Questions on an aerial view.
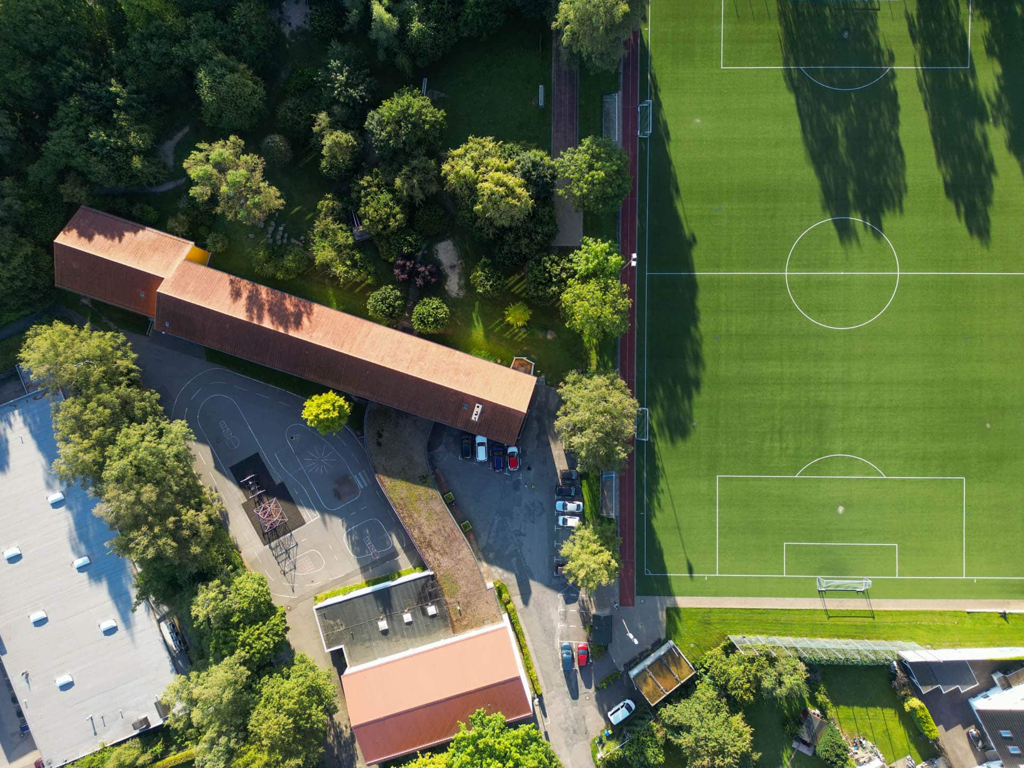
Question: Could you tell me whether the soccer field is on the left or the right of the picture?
right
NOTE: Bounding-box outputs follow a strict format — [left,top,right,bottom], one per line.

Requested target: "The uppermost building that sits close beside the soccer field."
[154,259,537,446]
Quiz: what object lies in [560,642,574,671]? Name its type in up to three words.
car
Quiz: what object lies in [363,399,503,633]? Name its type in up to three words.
building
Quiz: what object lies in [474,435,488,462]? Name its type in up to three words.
car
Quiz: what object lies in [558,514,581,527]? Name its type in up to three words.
vehicle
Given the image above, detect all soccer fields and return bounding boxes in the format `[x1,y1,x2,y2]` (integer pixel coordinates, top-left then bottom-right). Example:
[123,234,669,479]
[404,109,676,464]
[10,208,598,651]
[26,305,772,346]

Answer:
[636,0,1024,598]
